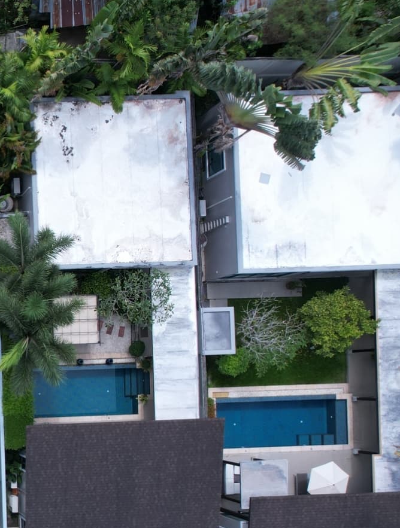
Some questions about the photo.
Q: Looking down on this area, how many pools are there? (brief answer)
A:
2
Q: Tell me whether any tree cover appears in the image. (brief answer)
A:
Yes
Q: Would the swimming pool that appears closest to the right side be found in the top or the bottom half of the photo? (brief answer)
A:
bottom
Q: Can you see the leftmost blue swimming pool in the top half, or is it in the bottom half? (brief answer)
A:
bottom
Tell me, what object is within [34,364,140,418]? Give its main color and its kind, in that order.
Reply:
blue swimming pool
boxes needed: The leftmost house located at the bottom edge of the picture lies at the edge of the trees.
[12,419,225,528]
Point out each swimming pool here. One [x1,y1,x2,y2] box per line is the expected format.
[212,390,353,453]
[34,364,140,418]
